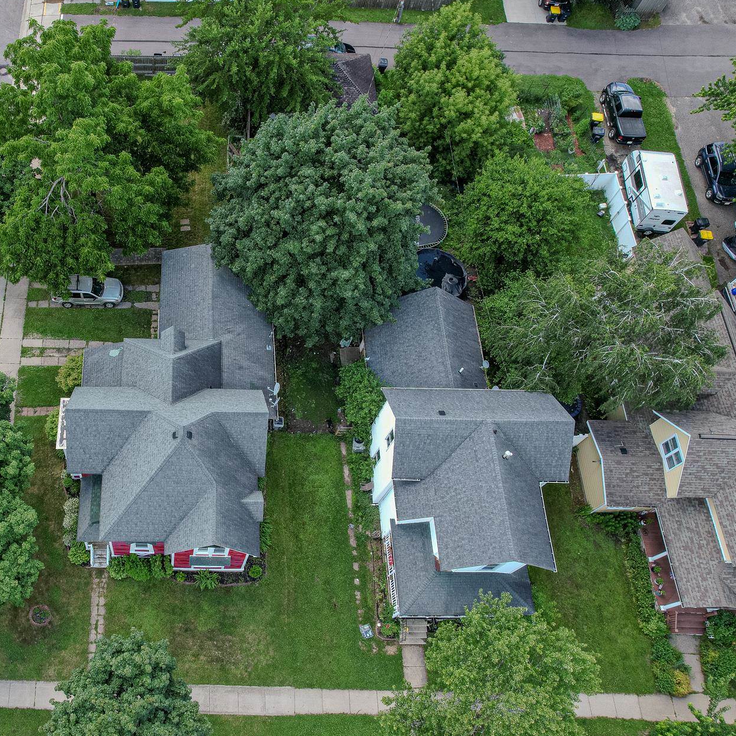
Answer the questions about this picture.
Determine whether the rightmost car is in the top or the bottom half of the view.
top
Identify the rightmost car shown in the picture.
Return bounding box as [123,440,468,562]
[699,145,736,206]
